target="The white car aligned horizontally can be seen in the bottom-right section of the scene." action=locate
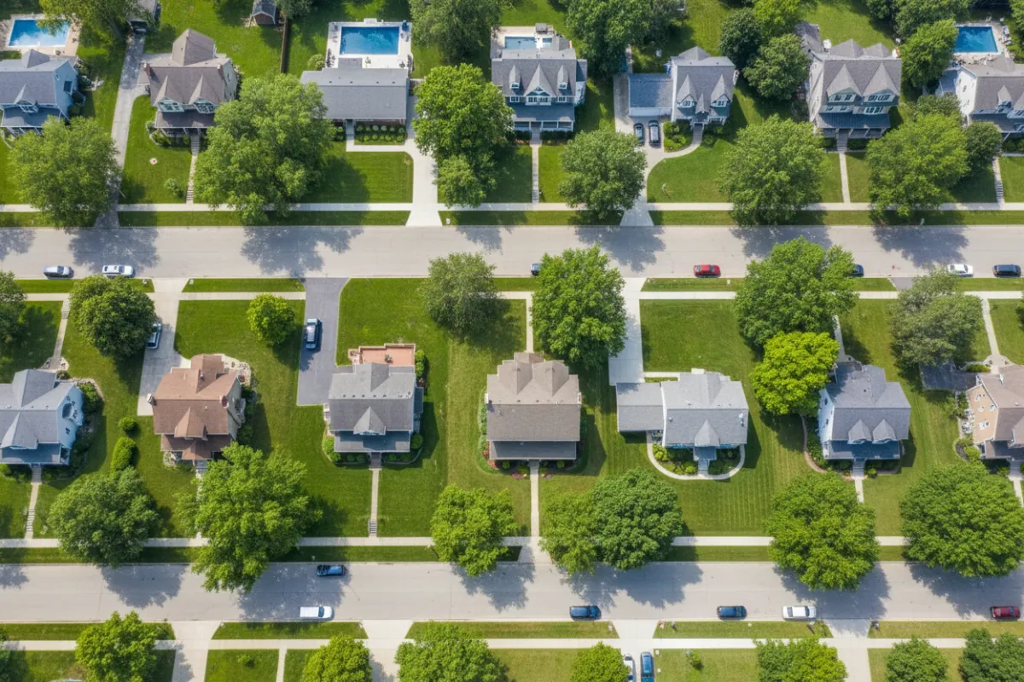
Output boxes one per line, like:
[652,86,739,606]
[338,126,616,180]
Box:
[782,605,816,620]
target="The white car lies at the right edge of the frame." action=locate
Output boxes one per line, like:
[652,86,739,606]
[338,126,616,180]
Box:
[946,263,973,276]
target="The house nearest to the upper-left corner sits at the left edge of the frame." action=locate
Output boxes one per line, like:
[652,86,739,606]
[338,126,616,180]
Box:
[0,46,85,132]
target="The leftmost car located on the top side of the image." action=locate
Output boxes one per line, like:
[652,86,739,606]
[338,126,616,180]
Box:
[42,265,75,278]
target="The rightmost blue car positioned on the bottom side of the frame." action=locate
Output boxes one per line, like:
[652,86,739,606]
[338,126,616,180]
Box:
[716,605,747,620]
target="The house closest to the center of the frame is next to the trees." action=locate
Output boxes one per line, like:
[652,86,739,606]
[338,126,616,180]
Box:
[482,353,583,471]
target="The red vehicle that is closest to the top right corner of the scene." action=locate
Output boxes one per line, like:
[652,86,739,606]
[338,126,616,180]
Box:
[693,264,721,276]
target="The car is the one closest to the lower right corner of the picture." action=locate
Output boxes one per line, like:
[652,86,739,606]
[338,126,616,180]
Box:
[989,605,1020,620]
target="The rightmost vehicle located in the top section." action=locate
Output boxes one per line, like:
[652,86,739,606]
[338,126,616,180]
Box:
[991,263,1021,277]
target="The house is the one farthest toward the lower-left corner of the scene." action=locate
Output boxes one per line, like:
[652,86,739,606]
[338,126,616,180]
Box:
[0,367,94,481]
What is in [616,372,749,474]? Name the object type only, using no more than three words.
house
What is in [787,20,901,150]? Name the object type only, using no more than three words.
house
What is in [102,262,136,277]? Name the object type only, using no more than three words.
car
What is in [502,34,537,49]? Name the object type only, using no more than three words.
swimming pool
